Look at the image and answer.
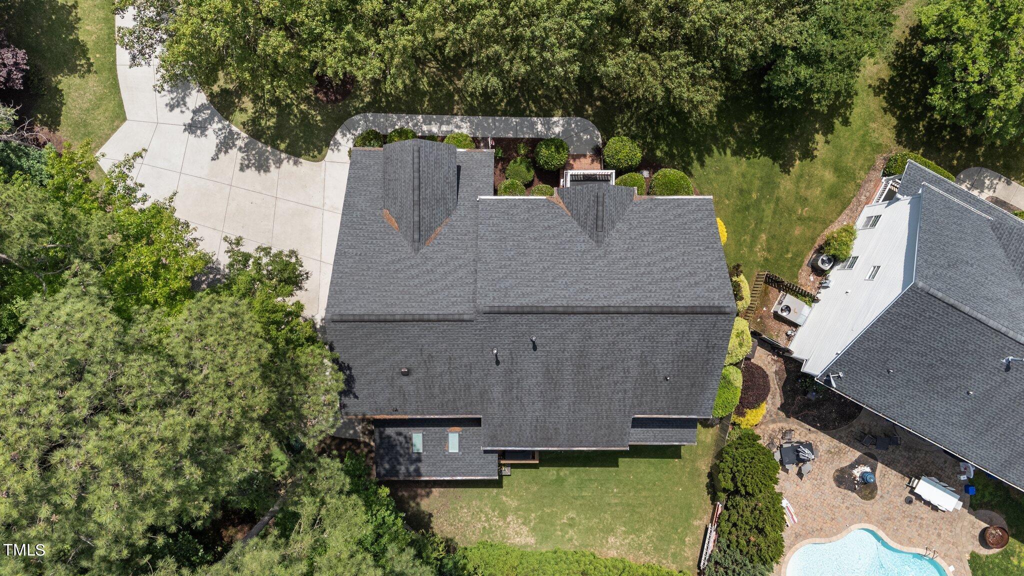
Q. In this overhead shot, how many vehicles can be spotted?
0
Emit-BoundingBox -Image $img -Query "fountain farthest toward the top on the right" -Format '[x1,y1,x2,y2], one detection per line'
[864,473,883,489]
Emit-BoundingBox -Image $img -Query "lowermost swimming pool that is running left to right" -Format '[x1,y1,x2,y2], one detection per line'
[782,523,955,576]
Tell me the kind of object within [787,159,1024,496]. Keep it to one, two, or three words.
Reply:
house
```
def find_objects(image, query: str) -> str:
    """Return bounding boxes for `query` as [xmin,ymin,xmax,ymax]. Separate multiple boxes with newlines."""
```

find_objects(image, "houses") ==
[325,139,736,482]
[787,159,1024,496]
